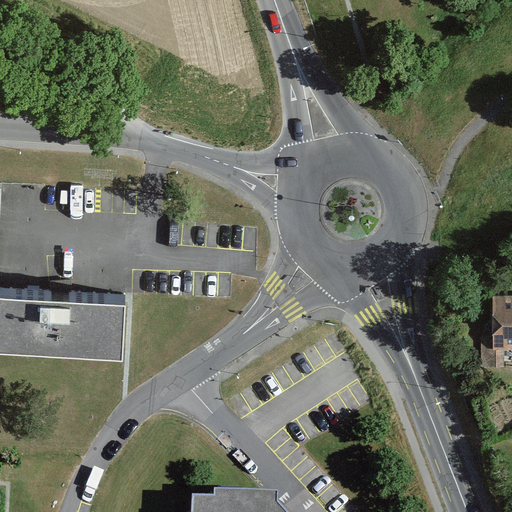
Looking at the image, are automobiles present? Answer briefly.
Yes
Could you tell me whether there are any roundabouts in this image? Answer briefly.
Yes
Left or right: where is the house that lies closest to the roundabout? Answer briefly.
right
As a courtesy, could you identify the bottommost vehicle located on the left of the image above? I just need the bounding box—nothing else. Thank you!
[83,466,104,501]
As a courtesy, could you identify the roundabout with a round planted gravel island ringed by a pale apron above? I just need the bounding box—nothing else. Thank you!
[275,132,428,304]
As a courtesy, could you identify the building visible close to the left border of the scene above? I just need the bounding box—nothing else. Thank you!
[0,287,126,362]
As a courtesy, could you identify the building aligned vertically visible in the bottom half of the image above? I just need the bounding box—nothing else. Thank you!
[481,294,512,367]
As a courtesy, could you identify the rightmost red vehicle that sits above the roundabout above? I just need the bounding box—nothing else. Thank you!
[268,12,282,33]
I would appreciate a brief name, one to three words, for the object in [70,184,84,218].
vehicle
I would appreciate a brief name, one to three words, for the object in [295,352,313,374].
car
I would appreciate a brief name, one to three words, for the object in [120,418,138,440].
car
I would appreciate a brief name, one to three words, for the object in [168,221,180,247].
vehicle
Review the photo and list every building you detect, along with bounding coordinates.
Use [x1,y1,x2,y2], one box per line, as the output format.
[190,486,294,512]
[0,287,126,362]
[481,294,512,367]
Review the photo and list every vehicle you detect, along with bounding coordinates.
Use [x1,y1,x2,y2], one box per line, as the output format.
[232,224,243,248]
[252,380,271,402]
[83,466,104,501]
[46,186,56,204]
[264,375,282,396]
[168,221,180,247]
[70,184,84,218]
[311,411,329,433]
[276,157,298,168]
[62,250,74,276]
[294,118,304,140]
[206,275,218,296]
[321,405,338,426]
[58,187,68,210]
[145,270,156,292]
[158,272,168,293]
[311,476,332,494]
[182,270,194,292]
[84,189,95,213]
[289,422,306,442]
[295,352,313,374]
[231,446,257,472]
[268,12,282,33]
[170,275,181,294]
[104,441,122,460]
[196,226,206,246]
[120,418,138,440]
[220,224,230,247]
